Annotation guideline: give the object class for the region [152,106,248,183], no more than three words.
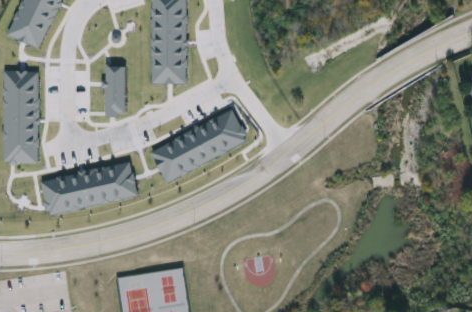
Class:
building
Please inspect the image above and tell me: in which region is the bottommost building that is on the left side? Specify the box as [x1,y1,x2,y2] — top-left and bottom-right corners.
[40,156,139,214]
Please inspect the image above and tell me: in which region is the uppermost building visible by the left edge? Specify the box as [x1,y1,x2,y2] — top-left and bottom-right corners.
[9,0,62,48]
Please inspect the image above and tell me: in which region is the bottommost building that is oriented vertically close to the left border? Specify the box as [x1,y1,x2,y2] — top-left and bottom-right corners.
[4,68,40,166]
